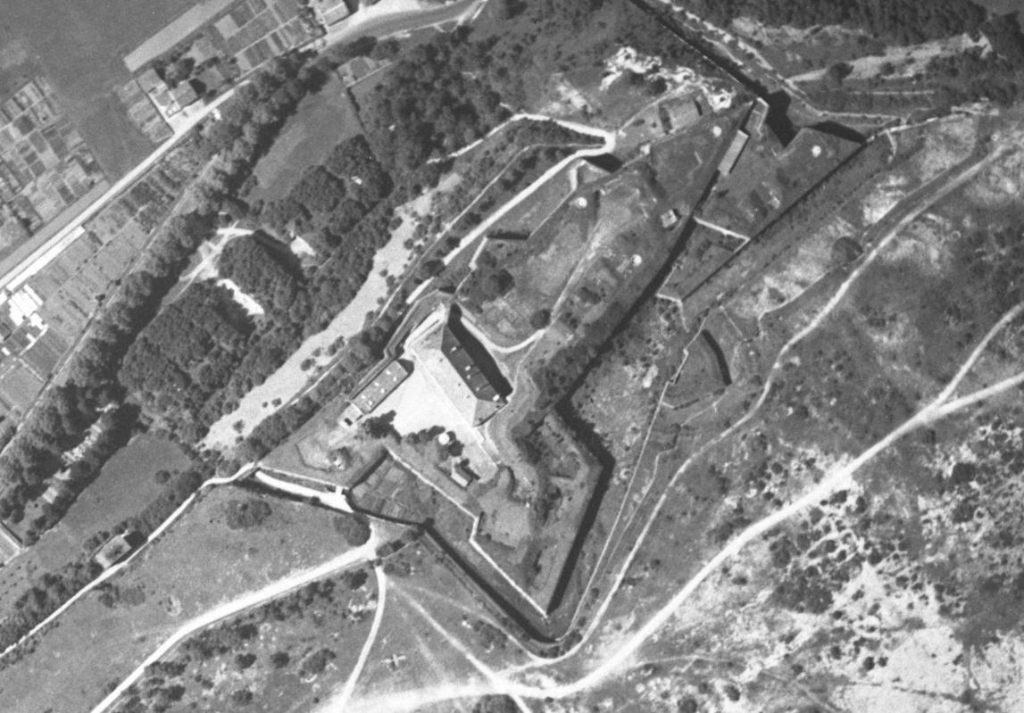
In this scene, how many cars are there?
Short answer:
0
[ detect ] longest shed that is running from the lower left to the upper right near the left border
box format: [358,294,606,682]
[8,226,86,292]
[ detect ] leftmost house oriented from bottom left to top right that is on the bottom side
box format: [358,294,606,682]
[97,536,132,568]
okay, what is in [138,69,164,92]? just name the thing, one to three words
barn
